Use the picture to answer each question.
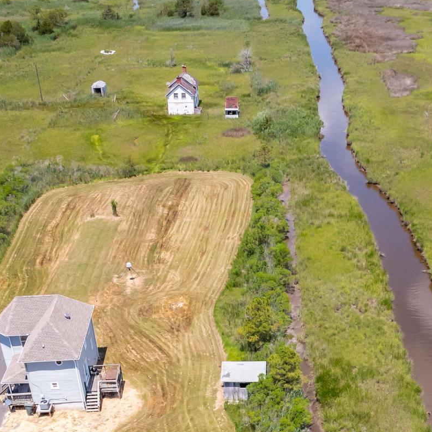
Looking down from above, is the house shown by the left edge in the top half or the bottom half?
bottom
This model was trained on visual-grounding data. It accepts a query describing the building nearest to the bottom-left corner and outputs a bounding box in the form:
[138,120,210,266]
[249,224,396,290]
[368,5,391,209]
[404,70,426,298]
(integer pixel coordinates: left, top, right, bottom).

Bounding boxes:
[0,293,123,411]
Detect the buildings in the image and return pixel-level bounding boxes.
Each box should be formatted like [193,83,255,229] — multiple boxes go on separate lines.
[165,54,202,114]
[224,98,240,118]
[221,358,266,401]
[92,79,108,97]
[0,293,123,411]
